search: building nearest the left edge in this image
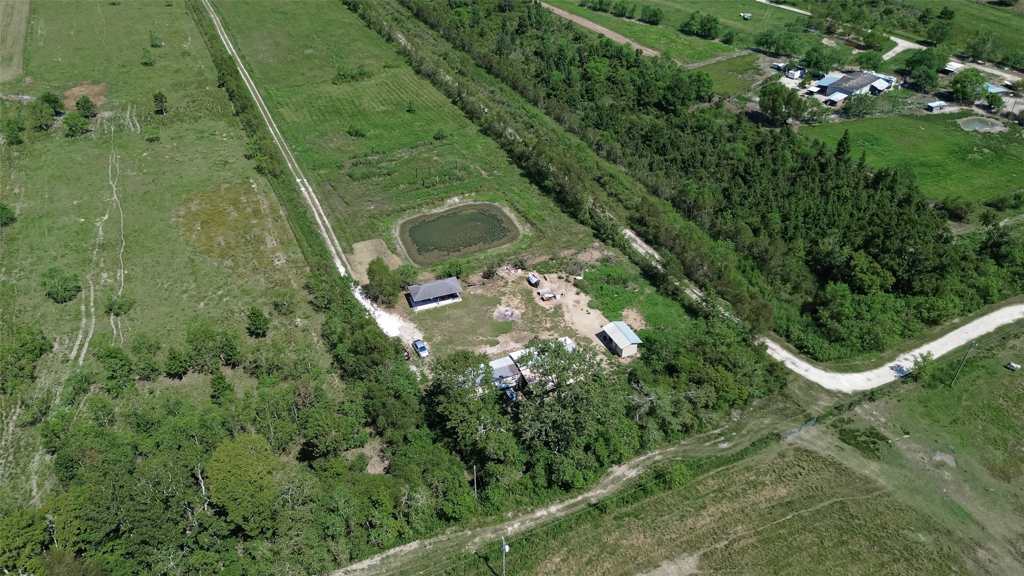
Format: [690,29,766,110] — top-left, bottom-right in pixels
[409,277,463,311]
